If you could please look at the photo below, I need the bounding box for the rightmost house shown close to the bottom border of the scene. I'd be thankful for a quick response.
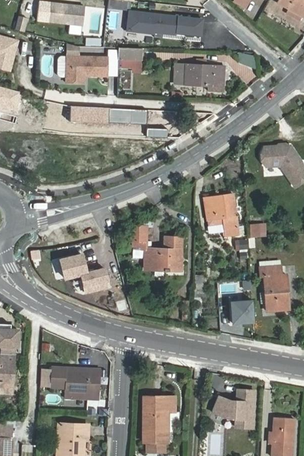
[268,418,298,456]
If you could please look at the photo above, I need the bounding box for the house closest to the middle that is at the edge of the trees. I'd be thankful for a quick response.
[134,224,185,277]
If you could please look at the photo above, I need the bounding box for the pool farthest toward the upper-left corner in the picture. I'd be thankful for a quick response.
[40,54,55,78]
